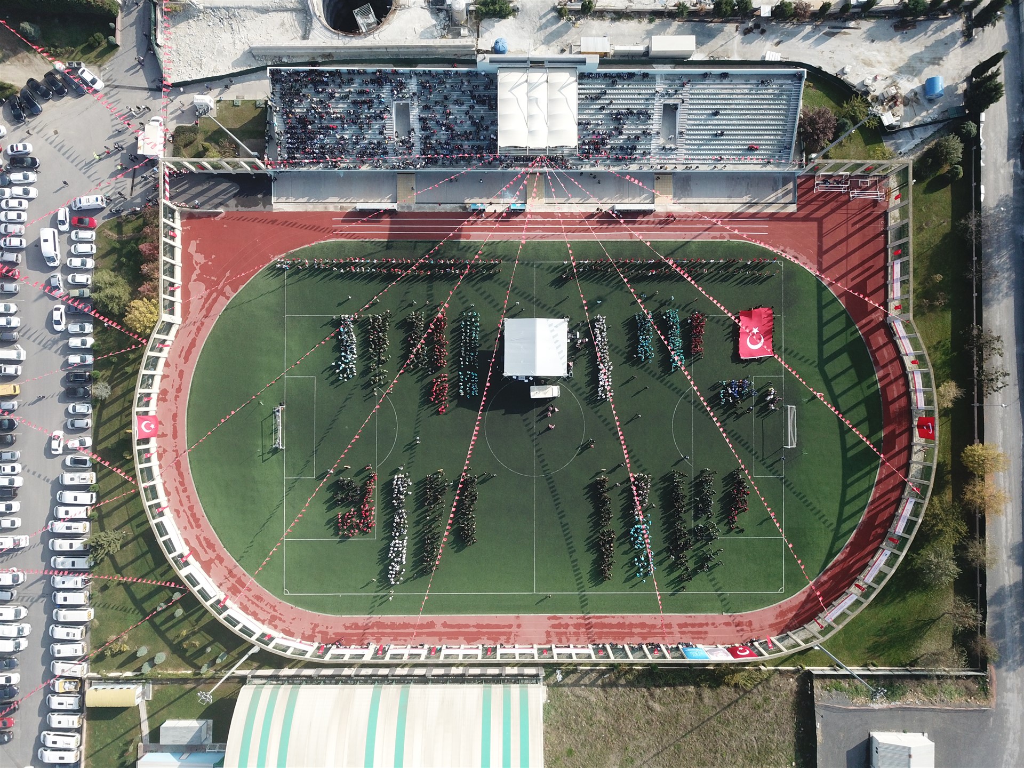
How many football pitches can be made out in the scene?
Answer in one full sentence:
My tally gives 1 football pitch in this photo.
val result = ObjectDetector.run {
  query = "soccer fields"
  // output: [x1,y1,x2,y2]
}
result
[187,241,882,615]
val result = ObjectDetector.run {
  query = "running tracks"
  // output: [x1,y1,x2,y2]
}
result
[157,174,912,644]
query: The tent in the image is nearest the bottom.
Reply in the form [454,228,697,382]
[501,316,570,381]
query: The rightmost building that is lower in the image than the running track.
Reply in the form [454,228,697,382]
[871,735,934,768]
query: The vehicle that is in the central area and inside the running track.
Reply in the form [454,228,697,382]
[530,386,559,398]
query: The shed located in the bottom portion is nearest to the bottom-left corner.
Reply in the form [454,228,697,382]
[86,682,144,706]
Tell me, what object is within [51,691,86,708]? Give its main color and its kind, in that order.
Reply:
white vehicle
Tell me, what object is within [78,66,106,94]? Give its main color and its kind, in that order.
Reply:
white car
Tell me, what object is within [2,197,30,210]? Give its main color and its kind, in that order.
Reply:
white vehicle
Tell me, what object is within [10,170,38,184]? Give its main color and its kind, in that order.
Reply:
white car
